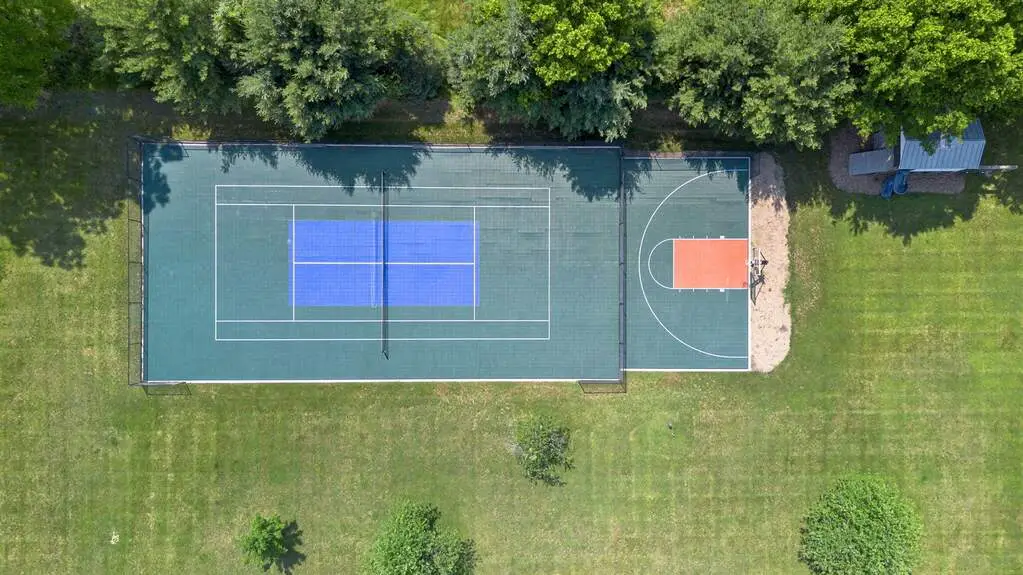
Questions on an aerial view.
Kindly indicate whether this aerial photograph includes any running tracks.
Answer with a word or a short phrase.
No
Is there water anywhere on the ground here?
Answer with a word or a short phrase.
No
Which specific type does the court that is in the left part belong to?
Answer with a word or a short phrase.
tennis court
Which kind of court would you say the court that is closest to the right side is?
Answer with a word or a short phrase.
basketball court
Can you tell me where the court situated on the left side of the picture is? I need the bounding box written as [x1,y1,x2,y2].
[140,140,619,383]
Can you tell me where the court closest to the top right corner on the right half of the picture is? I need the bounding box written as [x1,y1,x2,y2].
[619,155,751,371]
